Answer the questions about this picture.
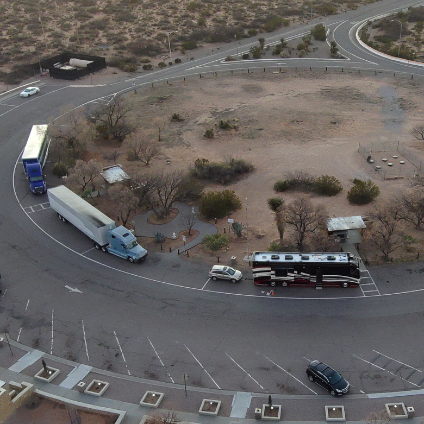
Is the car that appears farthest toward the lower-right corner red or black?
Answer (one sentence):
The color of the car that appears farthest toward the lower-right corner is black.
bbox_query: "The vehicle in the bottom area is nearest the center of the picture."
[207,262,244,281]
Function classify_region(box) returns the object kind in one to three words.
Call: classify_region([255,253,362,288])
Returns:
vehicle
